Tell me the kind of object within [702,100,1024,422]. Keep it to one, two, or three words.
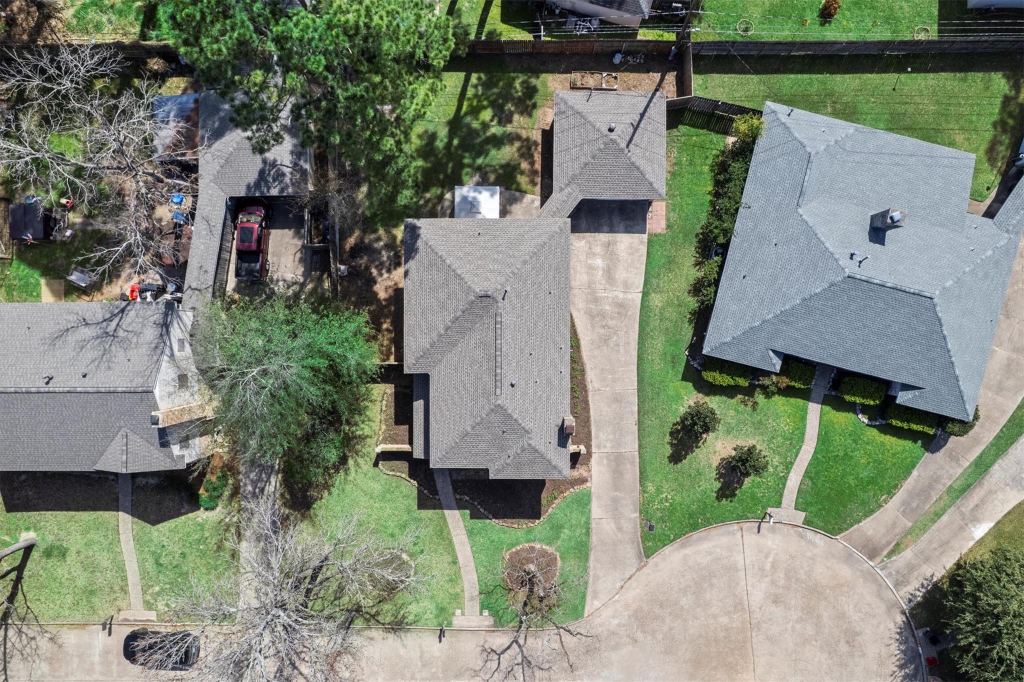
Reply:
house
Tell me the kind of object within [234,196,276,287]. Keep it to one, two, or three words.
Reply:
truck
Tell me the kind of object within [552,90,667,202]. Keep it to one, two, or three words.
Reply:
building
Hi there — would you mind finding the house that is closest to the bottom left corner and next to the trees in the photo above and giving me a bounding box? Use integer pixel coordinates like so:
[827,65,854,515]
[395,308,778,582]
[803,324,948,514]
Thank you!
[0,301,227,477]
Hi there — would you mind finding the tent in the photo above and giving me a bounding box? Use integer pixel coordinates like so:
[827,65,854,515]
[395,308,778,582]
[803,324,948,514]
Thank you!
[455,186,500,218]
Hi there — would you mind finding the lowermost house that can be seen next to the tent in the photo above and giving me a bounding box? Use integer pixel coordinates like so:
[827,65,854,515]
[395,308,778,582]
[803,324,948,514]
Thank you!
[402,216,579,480]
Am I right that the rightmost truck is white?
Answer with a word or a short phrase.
No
